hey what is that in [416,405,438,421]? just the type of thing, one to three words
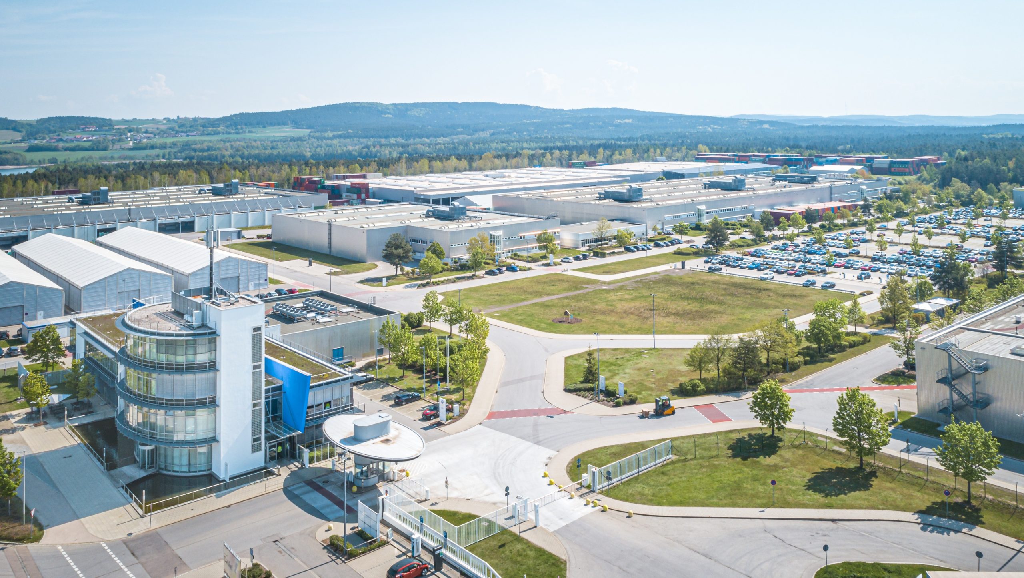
car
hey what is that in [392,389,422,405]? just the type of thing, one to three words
car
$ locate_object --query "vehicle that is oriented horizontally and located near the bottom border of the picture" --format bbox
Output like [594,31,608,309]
[384,555,431,578]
